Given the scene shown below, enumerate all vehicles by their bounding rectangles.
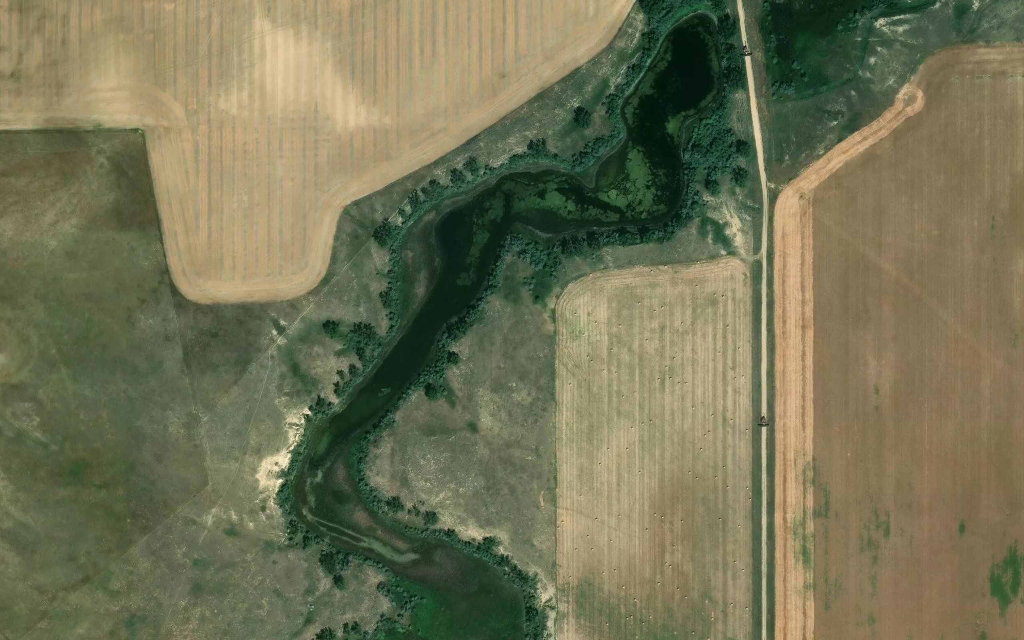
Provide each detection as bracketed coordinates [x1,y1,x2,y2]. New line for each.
[742,43,753,56]
[758,416,770,427]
